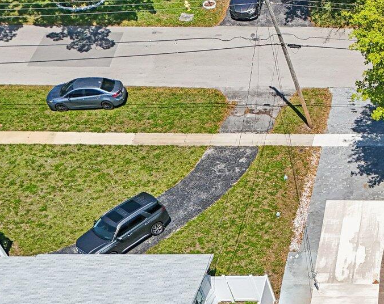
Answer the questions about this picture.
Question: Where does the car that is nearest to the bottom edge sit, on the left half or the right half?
left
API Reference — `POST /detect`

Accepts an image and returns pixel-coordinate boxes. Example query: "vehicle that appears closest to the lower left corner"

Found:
[69,187,175,254]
